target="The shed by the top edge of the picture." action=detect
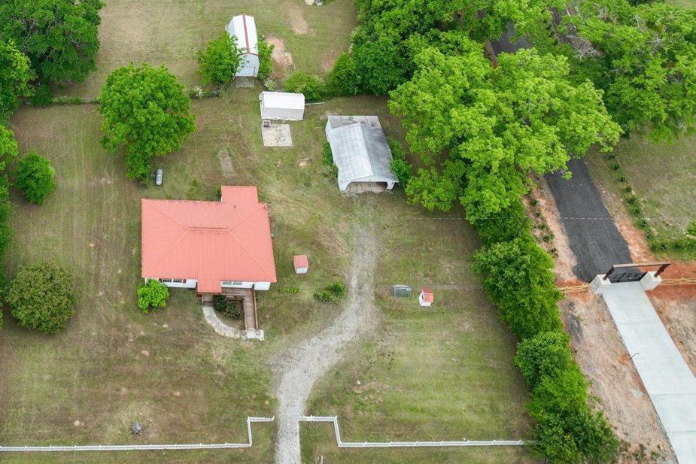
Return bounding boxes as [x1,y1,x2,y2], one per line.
[230,14,261,76]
